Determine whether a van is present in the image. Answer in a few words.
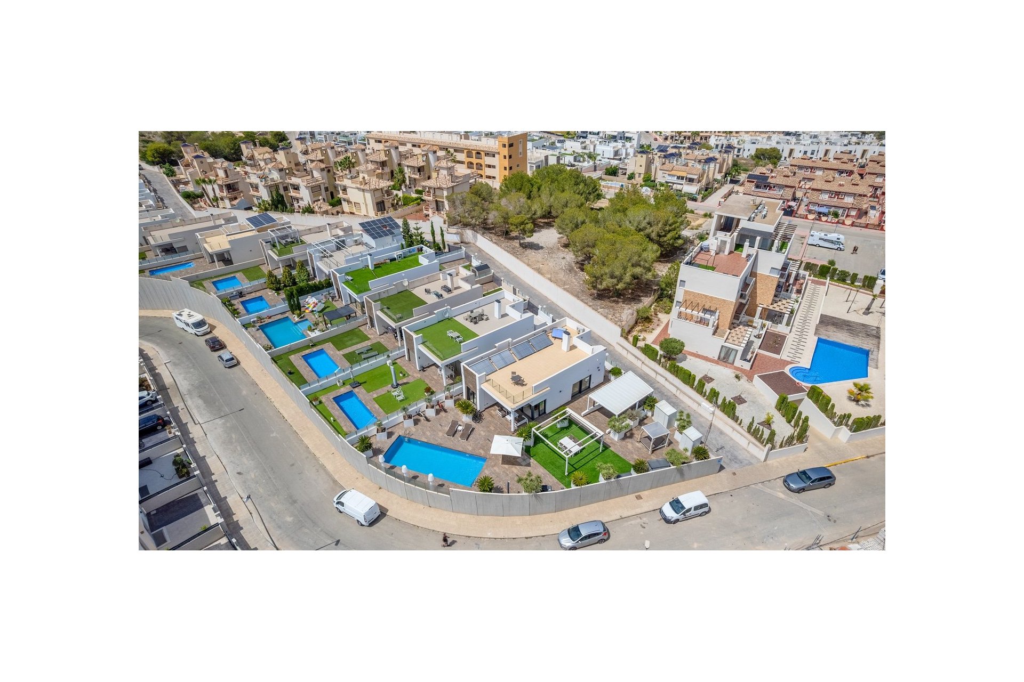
Yes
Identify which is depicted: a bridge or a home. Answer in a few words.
home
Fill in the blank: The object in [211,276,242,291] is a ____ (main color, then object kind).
blue swimming pool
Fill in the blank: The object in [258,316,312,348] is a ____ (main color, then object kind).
blue swimming pool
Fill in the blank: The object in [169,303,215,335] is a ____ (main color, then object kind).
white camper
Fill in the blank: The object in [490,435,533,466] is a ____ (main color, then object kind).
white umbrella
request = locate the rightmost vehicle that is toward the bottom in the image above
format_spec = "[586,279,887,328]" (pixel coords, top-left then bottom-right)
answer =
[784,463,840,490]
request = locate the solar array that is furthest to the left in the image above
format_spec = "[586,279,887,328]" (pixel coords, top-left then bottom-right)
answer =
[243,215,282,235]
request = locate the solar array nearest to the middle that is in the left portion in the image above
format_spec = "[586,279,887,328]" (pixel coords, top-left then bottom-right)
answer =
[349,215,415,243]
